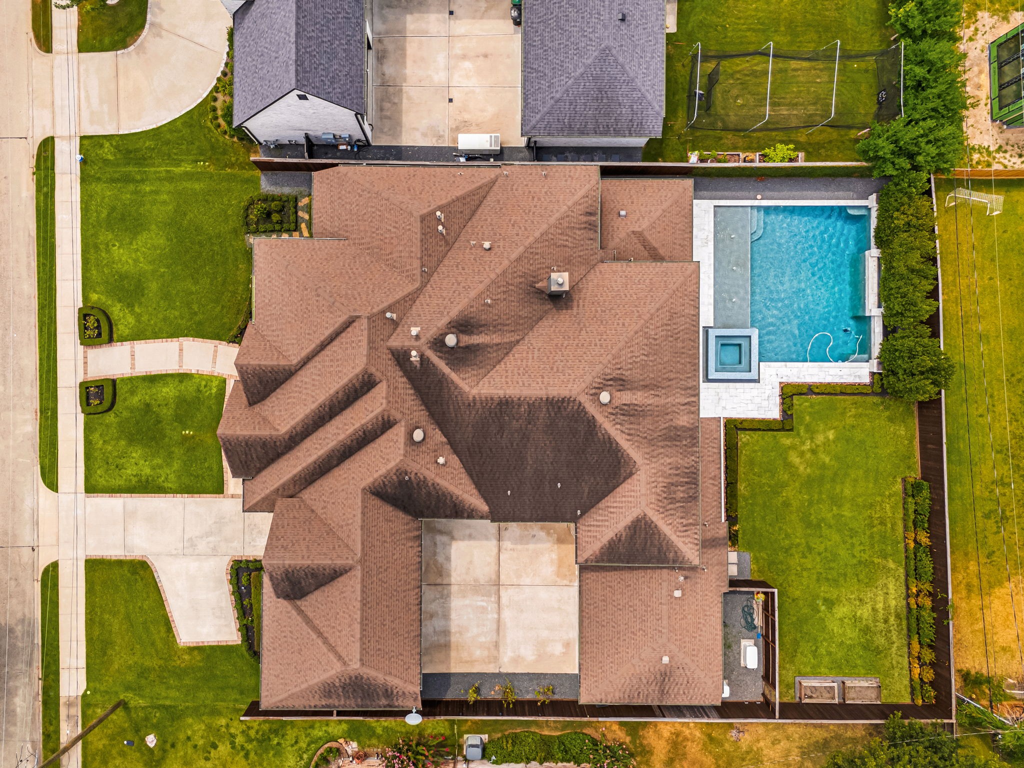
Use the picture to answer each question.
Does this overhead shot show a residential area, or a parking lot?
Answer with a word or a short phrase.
residential area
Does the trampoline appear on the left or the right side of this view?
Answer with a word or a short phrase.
right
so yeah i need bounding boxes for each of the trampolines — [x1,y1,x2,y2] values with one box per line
[980,23,1024,126]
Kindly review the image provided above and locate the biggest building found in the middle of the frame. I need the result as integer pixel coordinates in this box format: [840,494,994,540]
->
[217,163,730,711]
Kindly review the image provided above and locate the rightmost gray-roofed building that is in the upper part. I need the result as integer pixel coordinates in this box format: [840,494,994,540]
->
[520,0,667,149]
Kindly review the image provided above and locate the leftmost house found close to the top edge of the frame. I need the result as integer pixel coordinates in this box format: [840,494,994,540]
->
[222,0,375,147]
